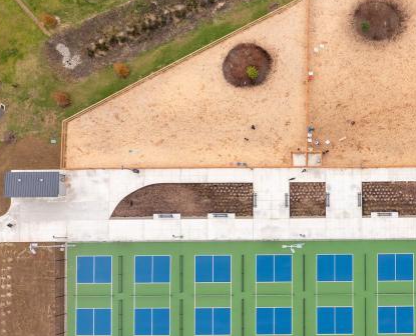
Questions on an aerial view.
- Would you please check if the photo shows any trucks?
No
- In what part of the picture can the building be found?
left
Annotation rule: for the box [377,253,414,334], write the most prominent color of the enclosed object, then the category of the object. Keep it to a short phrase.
blue sports court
